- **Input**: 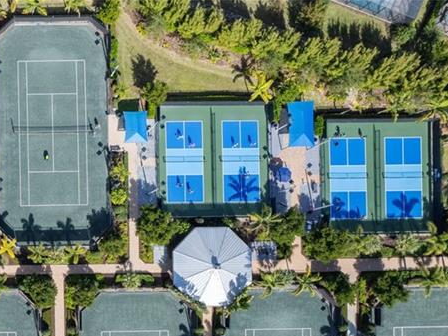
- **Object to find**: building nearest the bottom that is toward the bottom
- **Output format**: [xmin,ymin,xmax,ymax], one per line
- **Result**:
[170,227,253,306]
